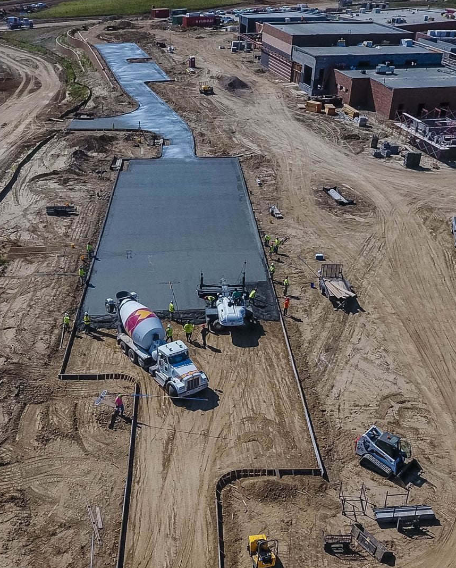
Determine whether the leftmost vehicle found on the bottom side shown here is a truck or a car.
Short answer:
truck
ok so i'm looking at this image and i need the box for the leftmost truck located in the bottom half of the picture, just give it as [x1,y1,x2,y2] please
[99,293,212,403]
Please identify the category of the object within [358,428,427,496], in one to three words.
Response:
work vehicle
